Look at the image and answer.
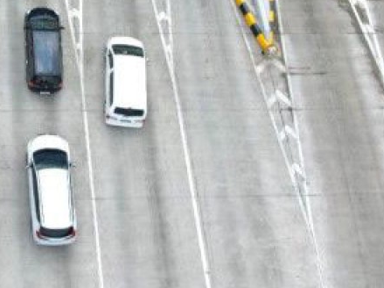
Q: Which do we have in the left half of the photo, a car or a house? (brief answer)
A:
car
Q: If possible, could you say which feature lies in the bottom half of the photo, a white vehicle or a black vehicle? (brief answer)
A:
white vehicle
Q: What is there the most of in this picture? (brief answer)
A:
paved ground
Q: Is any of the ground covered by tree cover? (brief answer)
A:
No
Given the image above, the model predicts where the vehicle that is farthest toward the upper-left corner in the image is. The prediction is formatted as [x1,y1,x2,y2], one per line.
[19,8,66,96]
